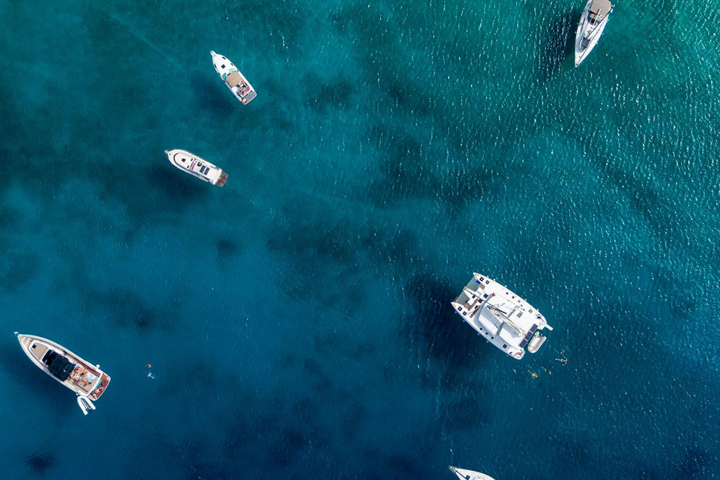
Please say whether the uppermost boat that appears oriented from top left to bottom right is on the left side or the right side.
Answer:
left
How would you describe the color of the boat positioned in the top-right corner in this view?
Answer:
white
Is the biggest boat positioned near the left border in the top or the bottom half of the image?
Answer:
bottom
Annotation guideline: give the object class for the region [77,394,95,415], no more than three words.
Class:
boat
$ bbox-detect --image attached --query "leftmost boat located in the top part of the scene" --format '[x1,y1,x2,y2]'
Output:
[163,148,227,186]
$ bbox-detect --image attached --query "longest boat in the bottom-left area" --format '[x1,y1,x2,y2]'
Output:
[13,333,110,397]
